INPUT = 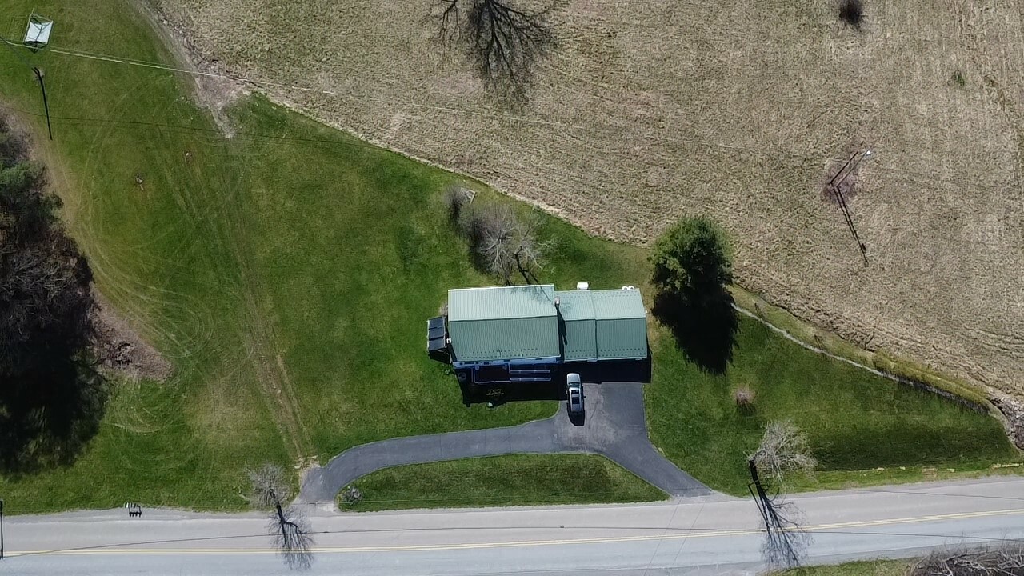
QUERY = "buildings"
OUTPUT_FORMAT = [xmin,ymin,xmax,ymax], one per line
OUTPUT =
[447,284,648,371]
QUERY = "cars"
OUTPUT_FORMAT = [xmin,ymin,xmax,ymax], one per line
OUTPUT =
[566,372,586,415]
